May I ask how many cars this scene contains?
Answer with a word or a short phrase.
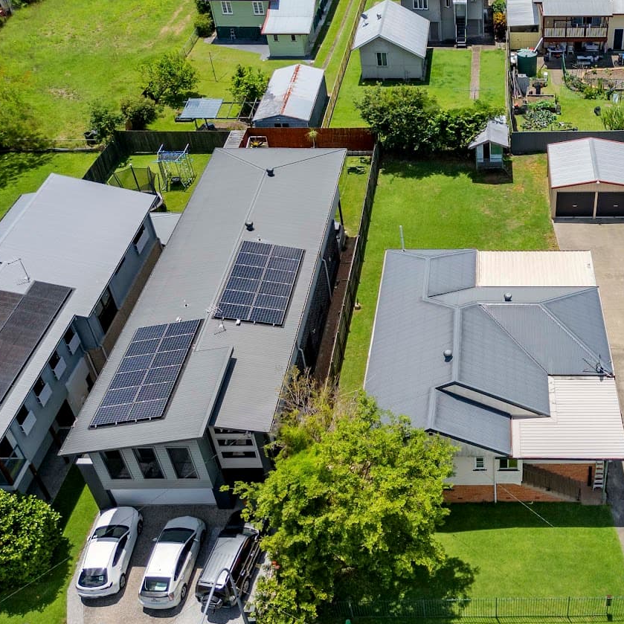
three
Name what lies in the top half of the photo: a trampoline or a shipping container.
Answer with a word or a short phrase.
trampoline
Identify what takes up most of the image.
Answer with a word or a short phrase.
buildings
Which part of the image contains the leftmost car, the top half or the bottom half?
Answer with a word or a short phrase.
bottom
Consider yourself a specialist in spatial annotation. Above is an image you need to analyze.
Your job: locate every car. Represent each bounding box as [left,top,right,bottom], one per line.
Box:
[199,501,275,602]
[137,515,209,608]
[73,504,149,596]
